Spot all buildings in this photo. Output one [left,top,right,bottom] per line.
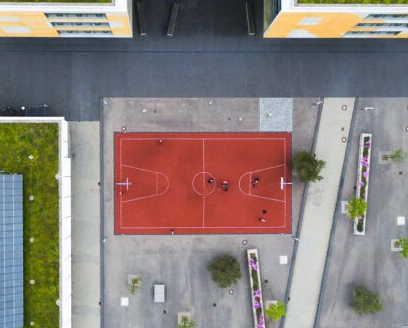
[0,117,71,328]
[264,0,408,38]
[0,0,132,38]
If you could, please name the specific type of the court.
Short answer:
basketball court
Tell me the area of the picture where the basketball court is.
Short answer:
center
